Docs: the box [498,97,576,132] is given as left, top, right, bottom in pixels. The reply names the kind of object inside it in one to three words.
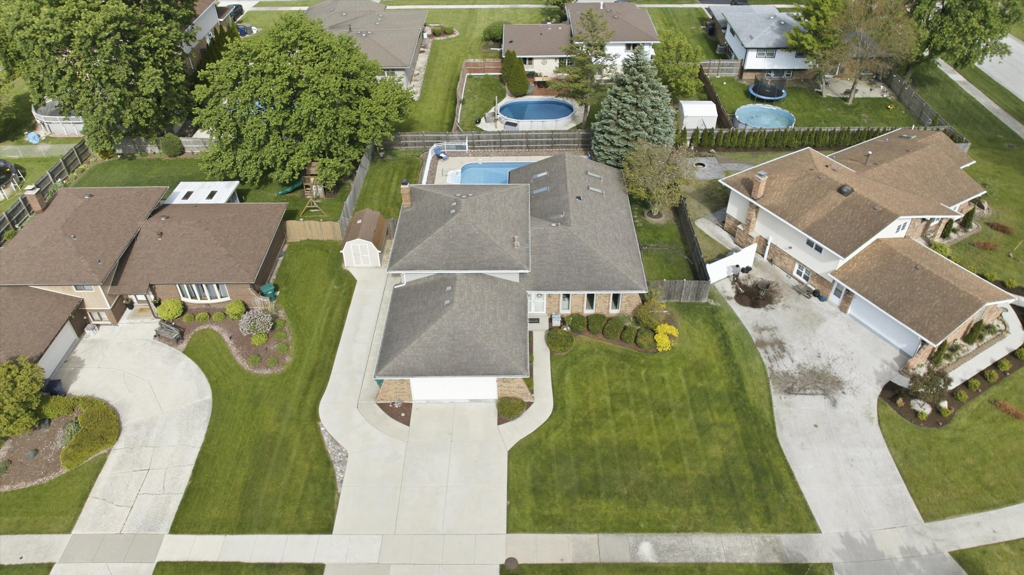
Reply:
swimming pool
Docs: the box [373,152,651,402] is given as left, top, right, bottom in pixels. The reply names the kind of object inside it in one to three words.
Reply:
house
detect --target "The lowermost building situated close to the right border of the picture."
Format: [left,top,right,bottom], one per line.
[718,125,1018,365]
